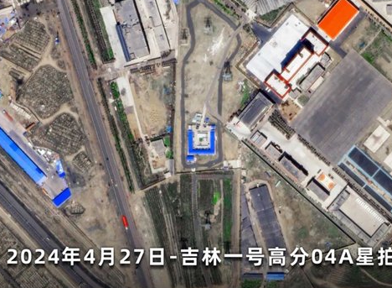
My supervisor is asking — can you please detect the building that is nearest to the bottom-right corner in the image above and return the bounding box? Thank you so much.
[340,187,390,238]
